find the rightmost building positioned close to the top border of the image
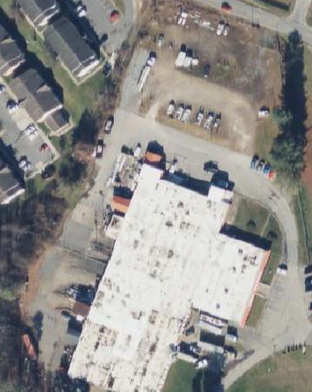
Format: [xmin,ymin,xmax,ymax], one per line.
[42,17,103,76]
